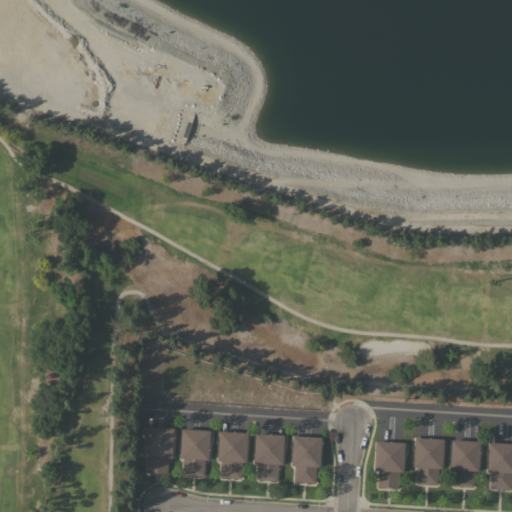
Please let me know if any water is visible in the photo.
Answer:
Yes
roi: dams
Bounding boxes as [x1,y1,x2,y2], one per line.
[92,0,512,217]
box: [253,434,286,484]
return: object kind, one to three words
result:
house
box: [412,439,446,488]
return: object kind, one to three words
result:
house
